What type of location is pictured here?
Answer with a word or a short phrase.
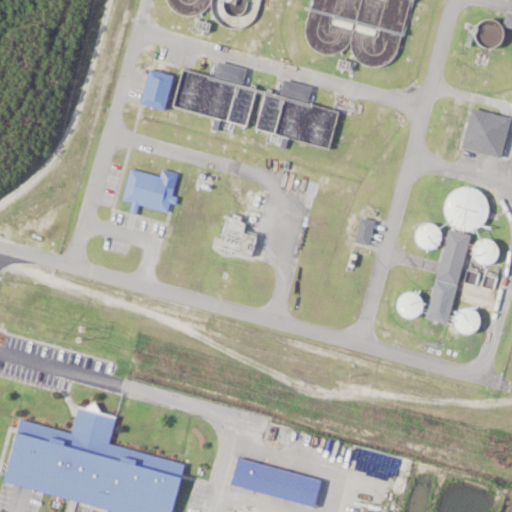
industrial area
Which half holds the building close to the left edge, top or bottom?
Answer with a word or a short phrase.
bottom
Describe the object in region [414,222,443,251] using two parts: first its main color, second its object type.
white storage tank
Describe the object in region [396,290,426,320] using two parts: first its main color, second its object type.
white storage tank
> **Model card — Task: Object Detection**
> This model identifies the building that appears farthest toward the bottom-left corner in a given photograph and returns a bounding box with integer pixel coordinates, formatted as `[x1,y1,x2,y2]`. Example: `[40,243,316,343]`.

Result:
[4,401,186,512]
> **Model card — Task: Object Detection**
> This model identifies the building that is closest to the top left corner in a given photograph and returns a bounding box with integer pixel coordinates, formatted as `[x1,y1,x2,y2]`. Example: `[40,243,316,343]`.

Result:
[139,68,176,112]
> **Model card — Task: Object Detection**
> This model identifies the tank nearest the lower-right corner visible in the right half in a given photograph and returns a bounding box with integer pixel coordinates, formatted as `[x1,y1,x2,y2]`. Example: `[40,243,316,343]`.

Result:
[450,306,482,336]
